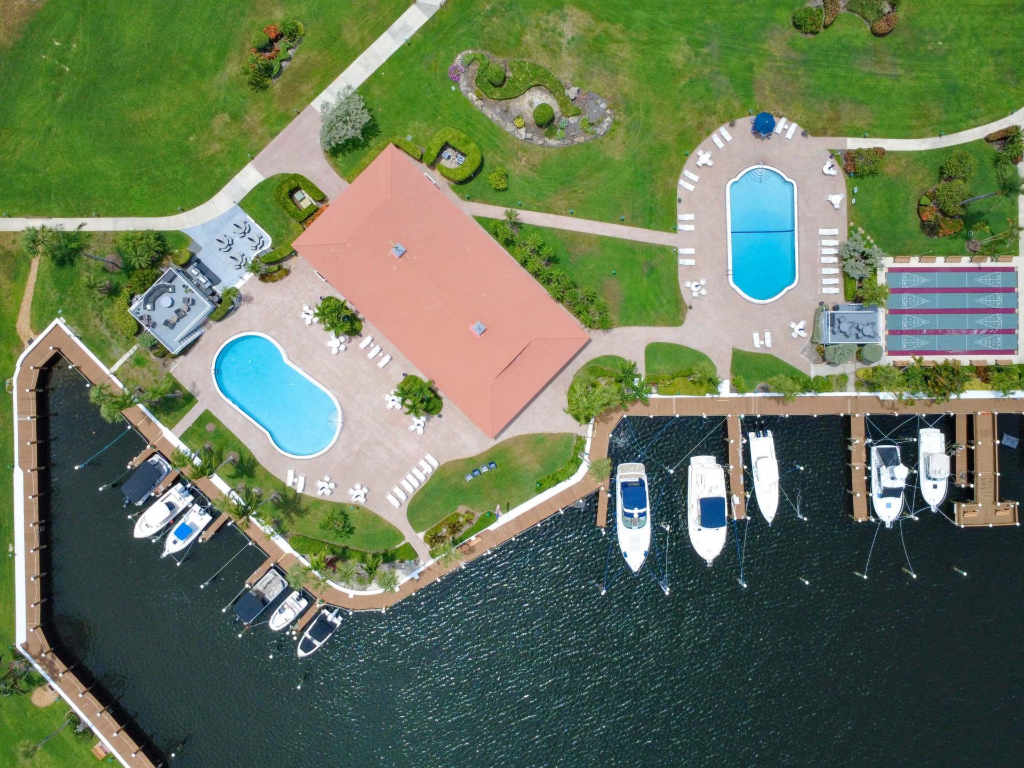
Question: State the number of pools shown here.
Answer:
two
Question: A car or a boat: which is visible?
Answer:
boat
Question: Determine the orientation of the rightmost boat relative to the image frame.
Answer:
from top to bottom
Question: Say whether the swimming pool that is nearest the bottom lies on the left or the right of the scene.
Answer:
left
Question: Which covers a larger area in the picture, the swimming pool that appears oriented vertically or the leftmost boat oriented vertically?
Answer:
the swimming pool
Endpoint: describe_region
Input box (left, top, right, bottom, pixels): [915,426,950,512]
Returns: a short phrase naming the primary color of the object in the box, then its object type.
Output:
white boat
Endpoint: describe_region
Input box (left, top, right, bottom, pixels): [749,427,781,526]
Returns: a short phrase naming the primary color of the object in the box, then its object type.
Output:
white boat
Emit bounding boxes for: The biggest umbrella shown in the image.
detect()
[753,114,774,135]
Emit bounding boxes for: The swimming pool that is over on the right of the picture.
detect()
[726,159,799,304]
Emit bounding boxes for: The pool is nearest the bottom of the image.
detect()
[209,331,344,458]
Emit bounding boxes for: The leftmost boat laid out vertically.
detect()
[616,462,650,572]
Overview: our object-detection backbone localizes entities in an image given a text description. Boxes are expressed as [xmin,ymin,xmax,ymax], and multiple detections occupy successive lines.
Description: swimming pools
[726,159,799,304]
[209,331,344,458]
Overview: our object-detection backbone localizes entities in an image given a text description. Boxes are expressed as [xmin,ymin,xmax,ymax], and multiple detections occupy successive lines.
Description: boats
[915,426,950,512]
[272,594,308,630]
[868,446,912,527]
[231,569,286,626]
[749,427,781,526]
[118,456,171,505]
[160,508,210,557]
[616,462,650,572]
[132,480,193,536]
[685,453,726,568]
[298,611,337,656]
